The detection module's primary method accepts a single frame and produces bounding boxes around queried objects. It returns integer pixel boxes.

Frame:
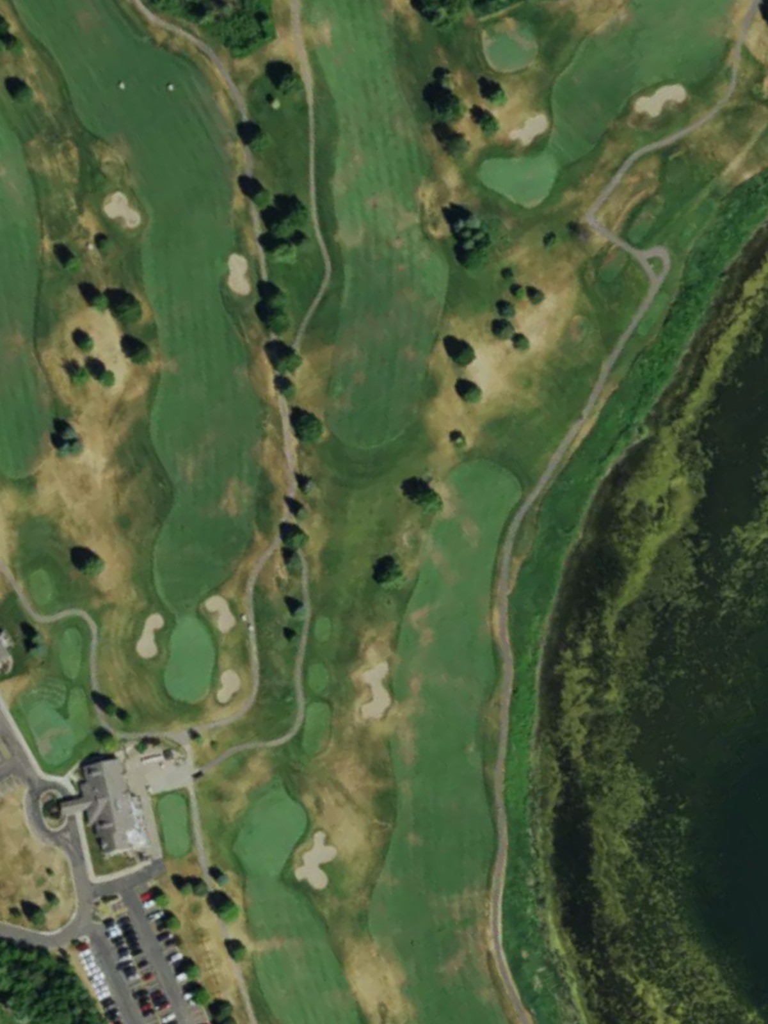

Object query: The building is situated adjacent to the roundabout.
[57,760,134,854]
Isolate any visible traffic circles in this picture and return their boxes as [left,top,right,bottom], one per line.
[39,789,67,831]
